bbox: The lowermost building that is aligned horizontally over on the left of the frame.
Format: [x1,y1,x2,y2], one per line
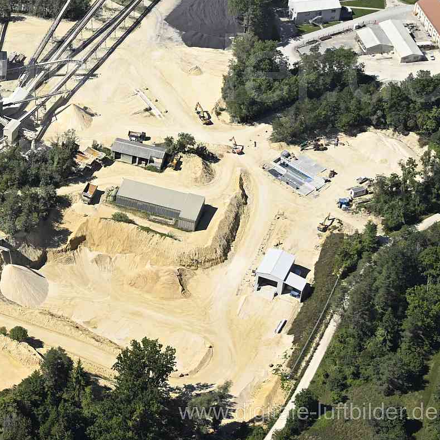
[114,175,207,229]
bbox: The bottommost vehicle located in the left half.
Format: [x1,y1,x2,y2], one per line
[83,182,96,201]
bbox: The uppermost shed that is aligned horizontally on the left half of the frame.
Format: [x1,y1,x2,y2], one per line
[110,137,173,175]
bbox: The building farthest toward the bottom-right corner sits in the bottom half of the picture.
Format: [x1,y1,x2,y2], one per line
[282,272,310,303]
